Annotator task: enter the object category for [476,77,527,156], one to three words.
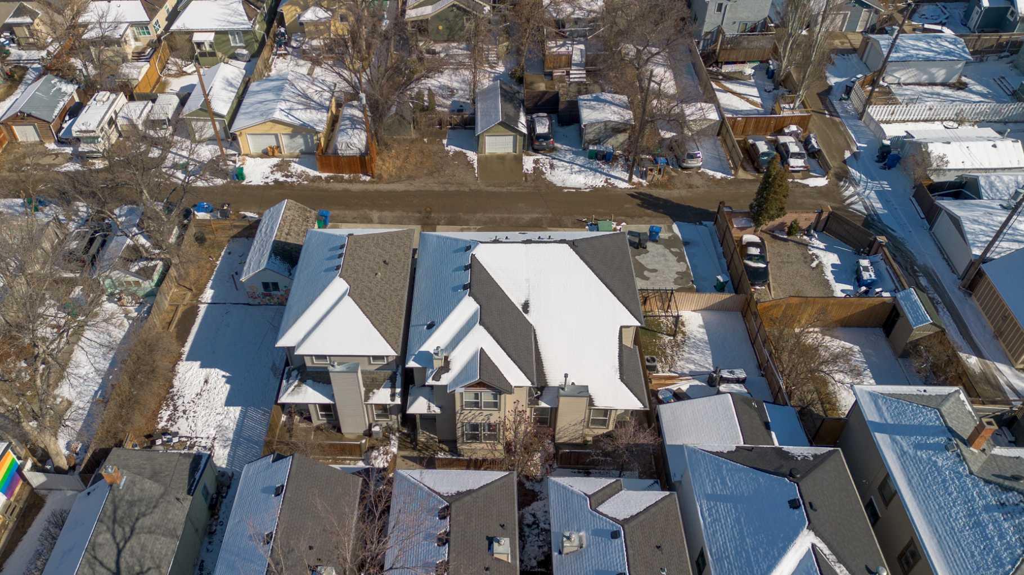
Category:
building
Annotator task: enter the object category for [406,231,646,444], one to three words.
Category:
house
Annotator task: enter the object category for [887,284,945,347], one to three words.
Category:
shed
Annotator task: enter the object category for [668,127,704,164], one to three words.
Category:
car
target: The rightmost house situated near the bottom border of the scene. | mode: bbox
[831,385,1024,575]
